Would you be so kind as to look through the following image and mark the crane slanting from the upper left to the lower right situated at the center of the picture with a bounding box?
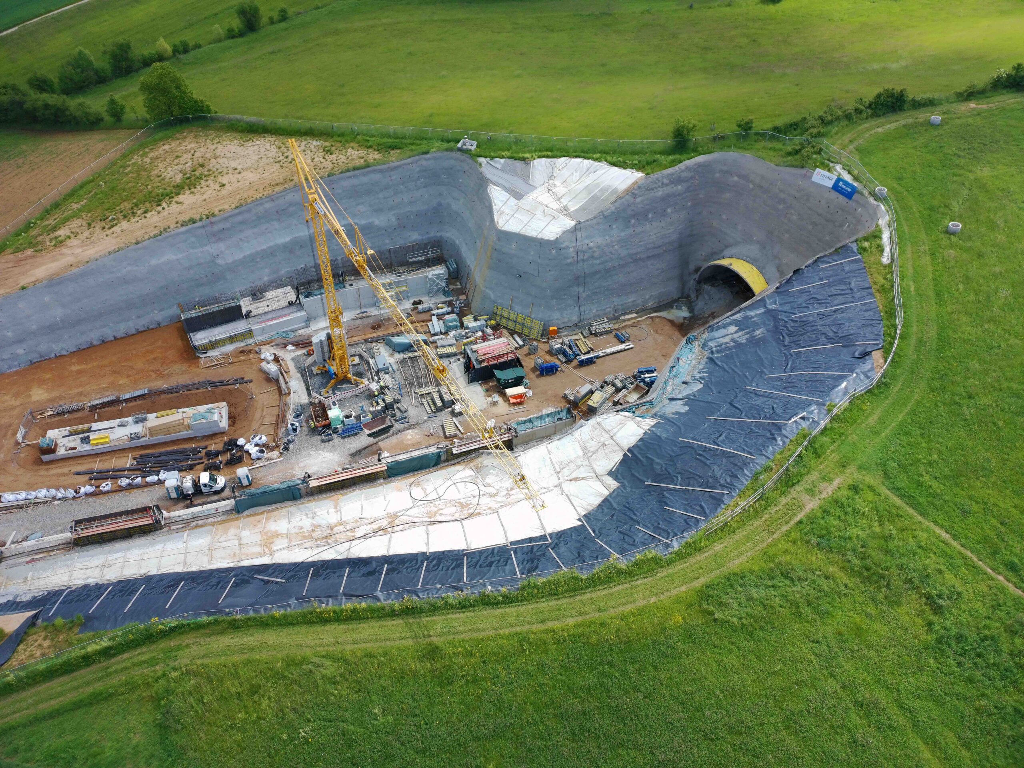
[289,138,548,510]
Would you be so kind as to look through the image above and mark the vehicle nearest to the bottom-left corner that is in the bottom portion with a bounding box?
[178,468,229,495]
